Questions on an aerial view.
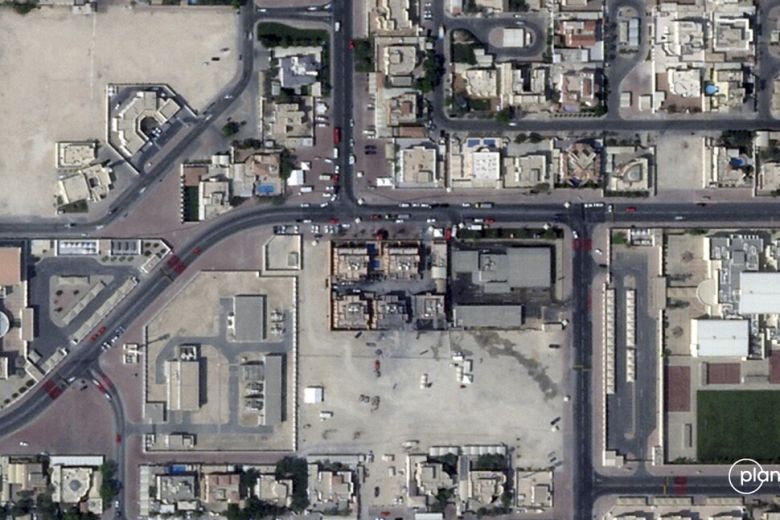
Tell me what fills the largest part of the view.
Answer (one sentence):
For the most part, this view shows paved ground.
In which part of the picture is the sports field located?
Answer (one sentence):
The sports field sits in the bottom right section of the image.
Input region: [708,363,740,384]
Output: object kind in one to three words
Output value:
sports court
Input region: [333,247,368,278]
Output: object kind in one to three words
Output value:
building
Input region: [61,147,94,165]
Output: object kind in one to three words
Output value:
house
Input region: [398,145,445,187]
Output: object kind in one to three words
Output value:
house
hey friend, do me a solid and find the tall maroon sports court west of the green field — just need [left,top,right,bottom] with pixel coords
[668,366,690,411]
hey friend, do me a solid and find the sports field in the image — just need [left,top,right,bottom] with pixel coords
[697,391,780,462]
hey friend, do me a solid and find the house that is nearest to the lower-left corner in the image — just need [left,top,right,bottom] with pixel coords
[1,455,46,502]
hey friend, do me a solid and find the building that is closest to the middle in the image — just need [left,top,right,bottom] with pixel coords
[382,247,419,278]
